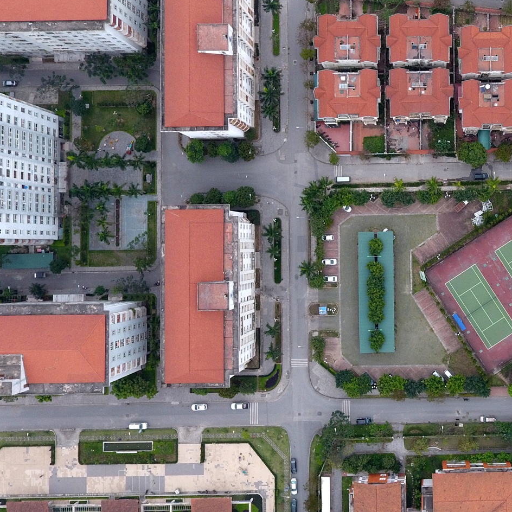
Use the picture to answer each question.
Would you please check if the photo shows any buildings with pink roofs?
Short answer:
Yes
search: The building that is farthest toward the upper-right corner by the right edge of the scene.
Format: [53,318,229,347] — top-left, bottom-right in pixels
[456,24,512,81]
